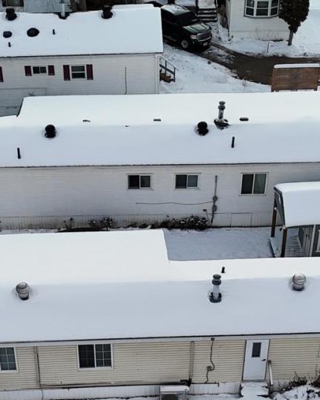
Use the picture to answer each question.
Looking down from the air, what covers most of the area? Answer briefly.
buildings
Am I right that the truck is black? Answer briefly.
Yes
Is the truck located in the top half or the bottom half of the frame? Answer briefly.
top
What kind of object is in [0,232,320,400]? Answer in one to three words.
house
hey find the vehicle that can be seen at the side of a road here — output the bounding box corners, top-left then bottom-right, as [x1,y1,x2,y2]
[139,0,210,43]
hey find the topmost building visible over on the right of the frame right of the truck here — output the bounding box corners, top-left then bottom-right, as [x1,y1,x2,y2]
[222,0,295,37]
